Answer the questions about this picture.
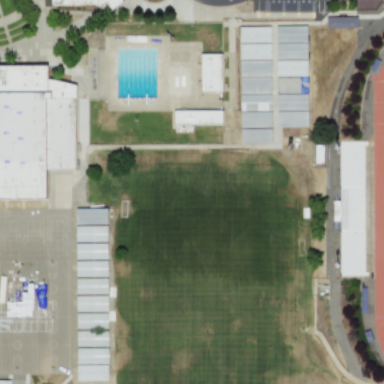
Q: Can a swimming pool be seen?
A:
Yes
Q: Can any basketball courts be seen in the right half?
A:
No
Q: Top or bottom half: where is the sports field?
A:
bottom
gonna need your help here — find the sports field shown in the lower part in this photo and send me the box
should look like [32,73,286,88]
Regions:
[67,150,350,384]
